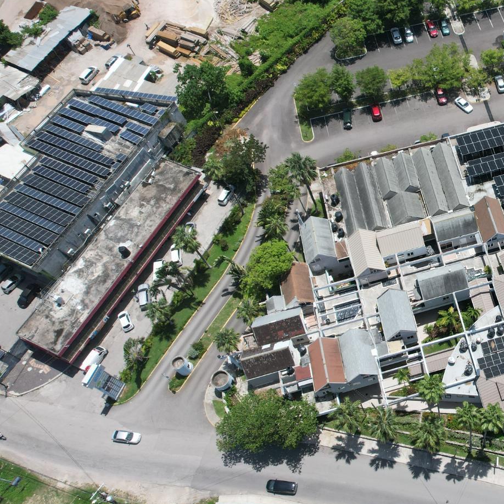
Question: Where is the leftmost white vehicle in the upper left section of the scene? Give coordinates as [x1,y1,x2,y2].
[76,63,102,85]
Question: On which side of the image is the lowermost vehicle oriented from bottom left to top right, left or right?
left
